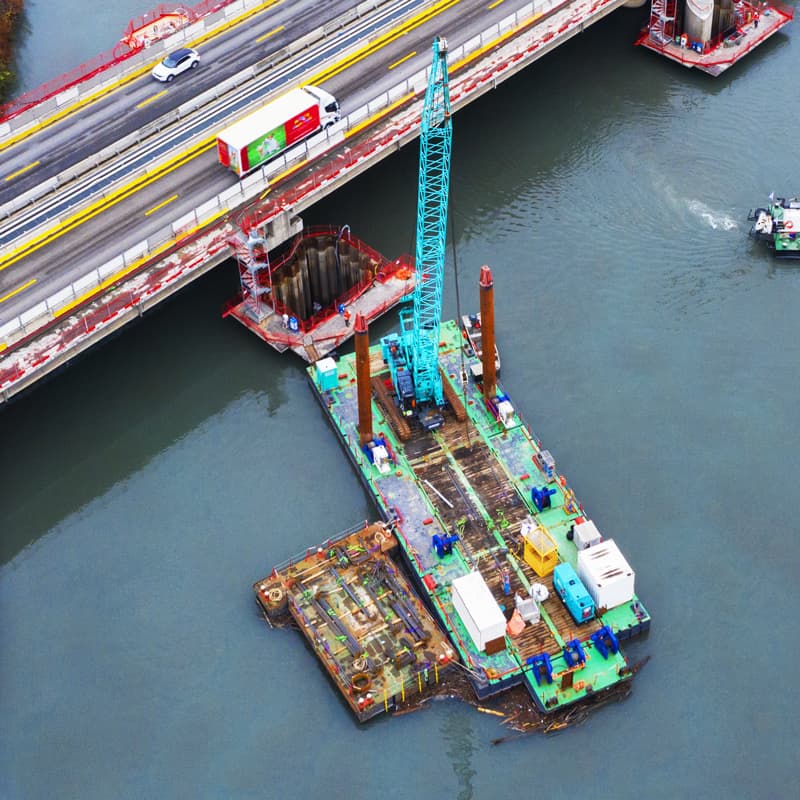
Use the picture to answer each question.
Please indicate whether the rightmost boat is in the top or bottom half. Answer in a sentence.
The rightmost boat sits in the top half of the picture.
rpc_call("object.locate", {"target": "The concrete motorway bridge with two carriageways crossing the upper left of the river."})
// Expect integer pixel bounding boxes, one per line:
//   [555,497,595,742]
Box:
[0,0,655,405]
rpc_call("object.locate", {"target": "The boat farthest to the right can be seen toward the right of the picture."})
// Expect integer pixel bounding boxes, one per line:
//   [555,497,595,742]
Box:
[746,188,800,260]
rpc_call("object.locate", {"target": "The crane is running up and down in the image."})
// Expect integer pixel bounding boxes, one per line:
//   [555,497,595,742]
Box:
[371,27,472,452]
